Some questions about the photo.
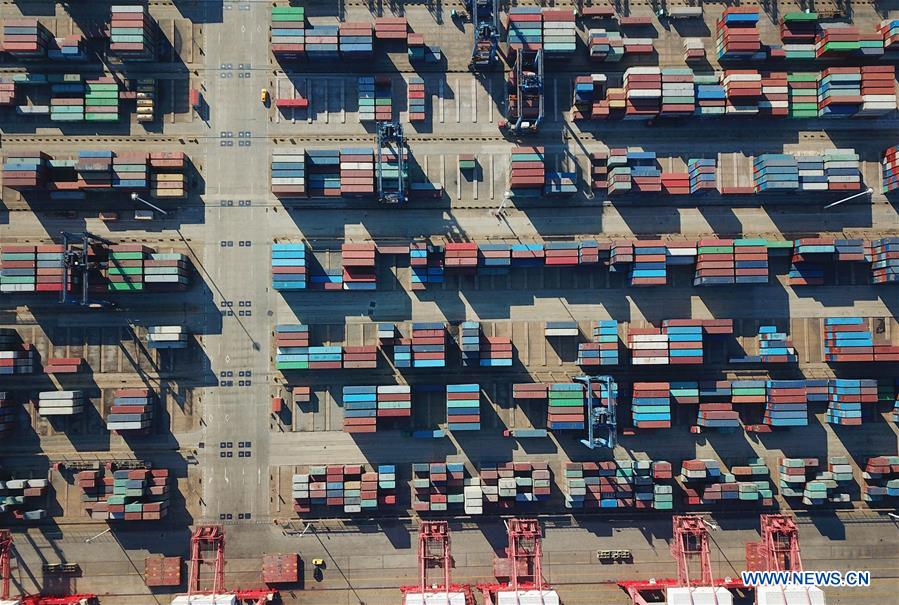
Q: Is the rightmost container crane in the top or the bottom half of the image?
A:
bottom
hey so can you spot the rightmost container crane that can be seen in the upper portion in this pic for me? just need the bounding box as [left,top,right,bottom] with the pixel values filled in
[505,47,544,133]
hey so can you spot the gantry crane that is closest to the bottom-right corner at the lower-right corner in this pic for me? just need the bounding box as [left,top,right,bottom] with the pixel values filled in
[720,514,822,605]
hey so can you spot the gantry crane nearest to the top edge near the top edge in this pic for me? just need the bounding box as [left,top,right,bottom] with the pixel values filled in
[464,0,500,68]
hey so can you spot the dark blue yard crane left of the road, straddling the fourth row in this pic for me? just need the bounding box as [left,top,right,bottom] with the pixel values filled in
[59,231,120,308]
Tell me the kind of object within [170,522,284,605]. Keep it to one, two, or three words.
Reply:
container crane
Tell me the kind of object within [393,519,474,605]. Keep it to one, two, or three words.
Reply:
container crane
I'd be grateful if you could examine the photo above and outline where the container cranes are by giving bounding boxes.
[375,119,410,211]
[464,0,500,68]
[610,515,730,605]
[470,517,558,605]
[170,522,284,605]
[59,231,120,308]
[0,526,103,605]
[720,514,822,605]
[393,519,474,605]
[569,373,615,445]
[505,47,544,133]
